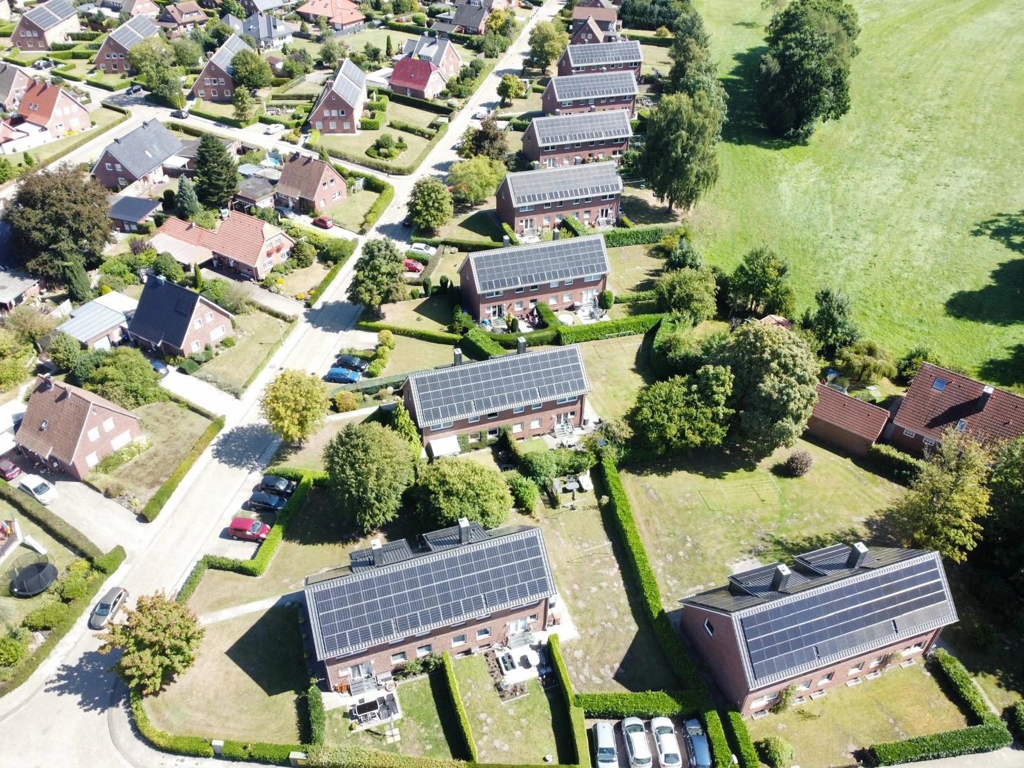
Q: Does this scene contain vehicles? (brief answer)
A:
Yes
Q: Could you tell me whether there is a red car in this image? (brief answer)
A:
Yes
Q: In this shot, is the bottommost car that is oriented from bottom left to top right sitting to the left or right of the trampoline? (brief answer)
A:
on the right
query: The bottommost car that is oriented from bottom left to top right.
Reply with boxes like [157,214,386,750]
[89,585,129,627]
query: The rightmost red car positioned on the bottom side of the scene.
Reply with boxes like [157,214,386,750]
[228,519,271,541]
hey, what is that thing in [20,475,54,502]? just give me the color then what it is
white car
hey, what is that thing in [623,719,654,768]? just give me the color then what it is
white car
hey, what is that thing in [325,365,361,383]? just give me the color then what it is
blue car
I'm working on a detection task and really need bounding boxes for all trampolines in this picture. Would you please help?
[0,553,57,603]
